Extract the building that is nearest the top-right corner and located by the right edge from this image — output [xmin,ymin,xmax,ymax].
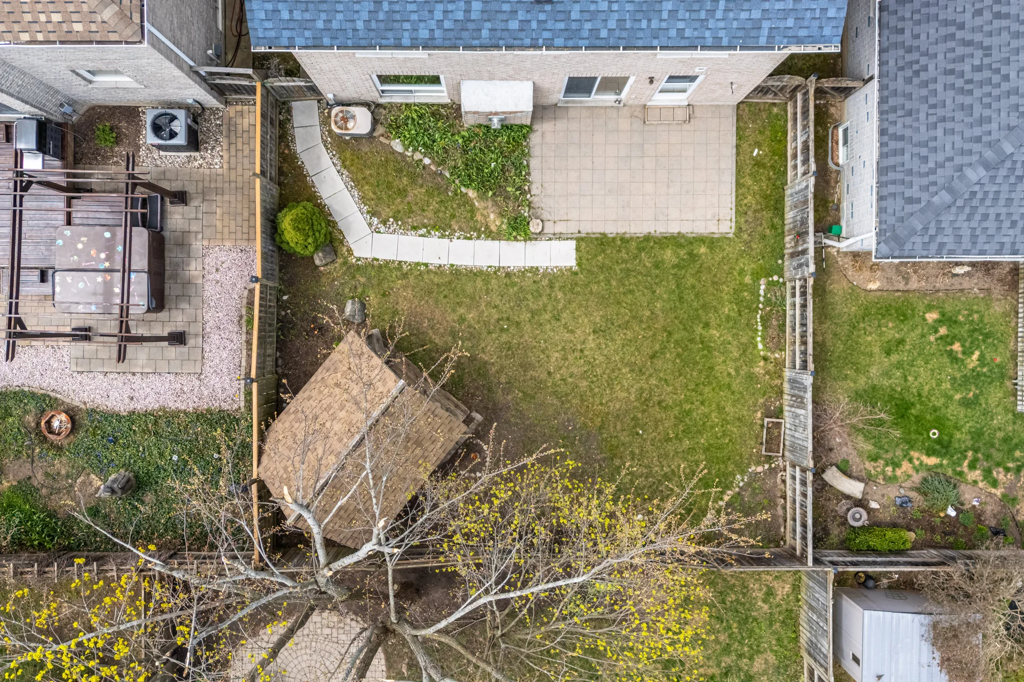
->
[843,0,1024,260]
